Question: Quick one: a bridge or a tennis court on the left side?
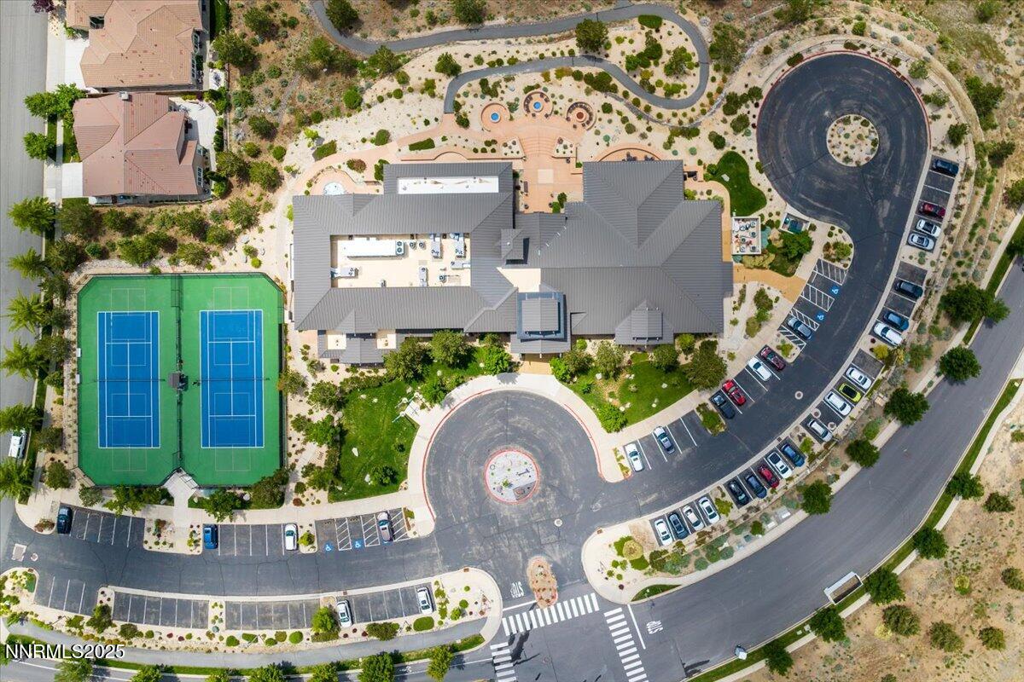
tennis court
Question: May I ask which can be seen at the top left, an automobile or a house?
house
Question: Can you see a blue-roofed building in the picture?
No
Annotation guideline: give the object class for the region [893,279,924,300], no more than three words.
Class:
car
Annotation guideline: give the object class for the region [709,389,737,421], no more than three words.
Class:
truck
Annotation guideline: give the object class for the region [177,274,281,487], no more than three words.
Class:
tennis court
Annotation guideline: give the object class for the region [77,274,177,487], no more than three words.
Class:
tennis court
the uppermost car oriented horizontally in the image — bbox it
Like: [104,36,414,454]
[929,158,960,176]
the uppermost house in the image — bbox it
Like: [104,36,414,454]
[67,0,207,88]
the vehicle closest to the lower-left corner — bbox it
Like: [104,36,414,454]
[55,505,74,535]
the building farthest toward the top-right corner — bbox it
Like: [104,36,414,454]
[293,160,733,363]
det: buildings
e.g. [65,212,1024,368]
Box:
[67,0,207,88]
[293,160,733,363]
[73,90,202,196]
